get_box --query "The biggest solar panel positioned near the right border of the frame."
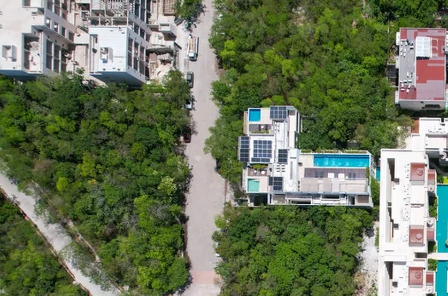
[416,37,430,57]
